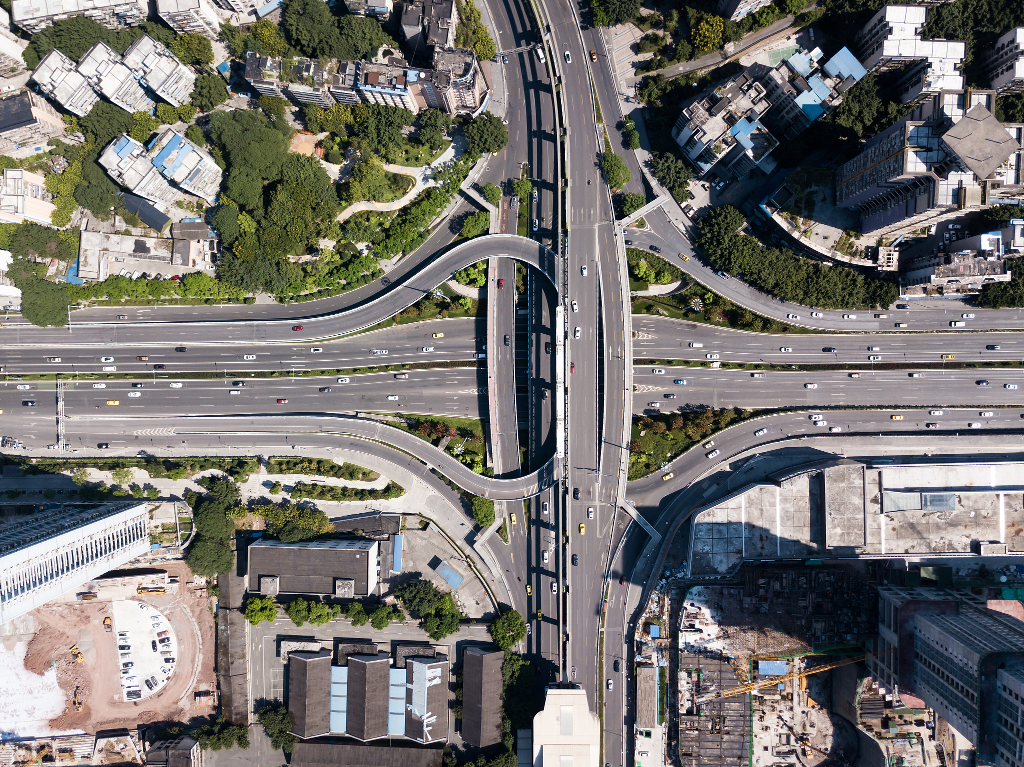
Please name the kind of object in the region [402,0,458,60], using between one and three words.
building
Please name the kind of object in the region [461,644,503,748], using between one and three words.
building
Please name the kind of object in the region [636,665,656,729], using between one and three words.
shed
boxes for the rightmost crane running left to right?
[696,642,896,700]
